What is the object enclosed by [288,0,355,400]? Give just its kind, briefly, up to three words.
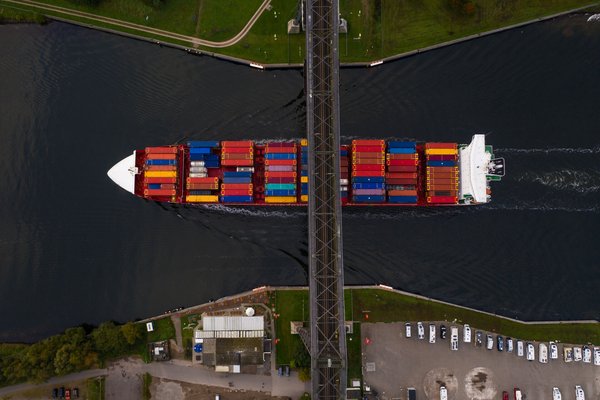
bridge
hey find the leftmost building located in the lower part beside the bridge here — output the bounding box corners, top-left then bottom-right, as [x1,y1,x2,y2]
[196,314,272,374]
